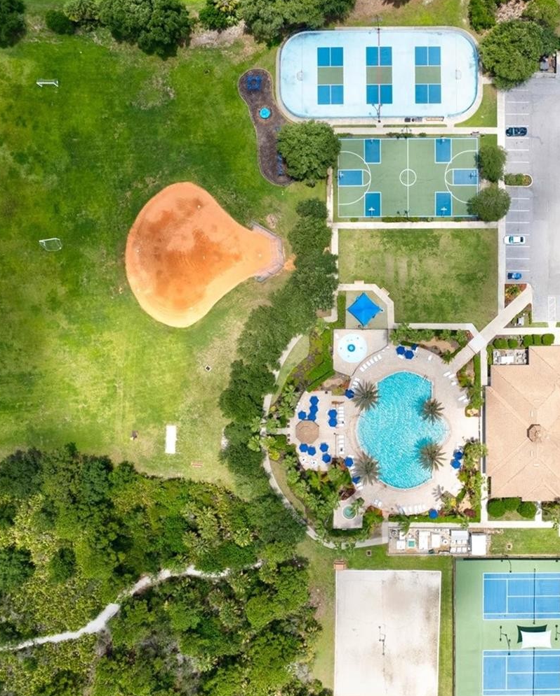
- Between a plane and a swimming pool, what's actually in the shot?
swimming pool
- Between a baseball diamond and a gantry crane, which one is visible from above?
baseball diamond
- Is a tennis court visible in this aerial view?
Yes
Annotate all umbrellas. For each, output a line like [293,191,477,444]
[453,450,462,460]
[299,443,309,452]
[297,409,308,420]
[309,404,319,413]
[404,349,414,360]
[319,442,329,452]
[352,474,362,484]
[328,418,339,427]
[345,388,355,398]
[322,453,332,463]
[344,456,354,467]
[427,508,438,519]
[328,409,339,418]
[307,445,317,455]
[310,395,319,404]
[395,345,404,355]
[450,459,460,468]
[308,411,317,420]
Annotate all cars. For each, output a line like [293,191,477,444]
[504,235,525,244]
[506,127,527,136]
[507,272,522,279]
